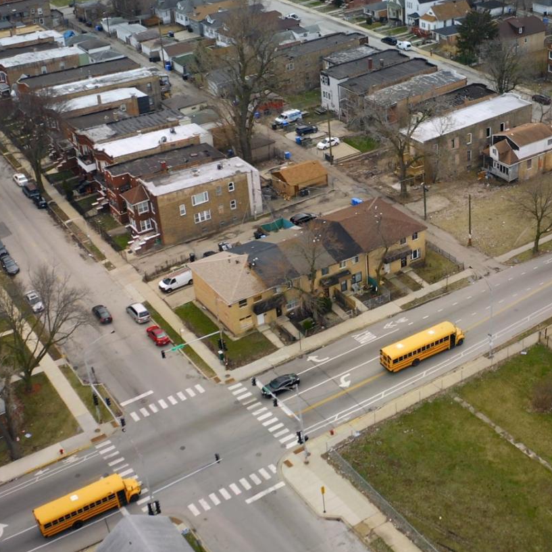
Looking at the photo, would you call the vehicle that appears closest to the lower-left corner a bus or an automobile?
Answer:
bus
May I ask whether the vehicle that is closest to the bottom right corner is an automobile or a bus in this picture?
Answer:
bus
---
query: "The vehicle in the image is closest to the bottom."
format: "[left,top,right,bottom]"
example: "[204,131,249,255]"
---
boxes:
[31,472,148,544]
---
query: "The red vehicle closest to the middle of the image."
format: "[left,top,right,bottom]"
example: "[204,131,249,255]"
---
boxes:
[144,321,170,344]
